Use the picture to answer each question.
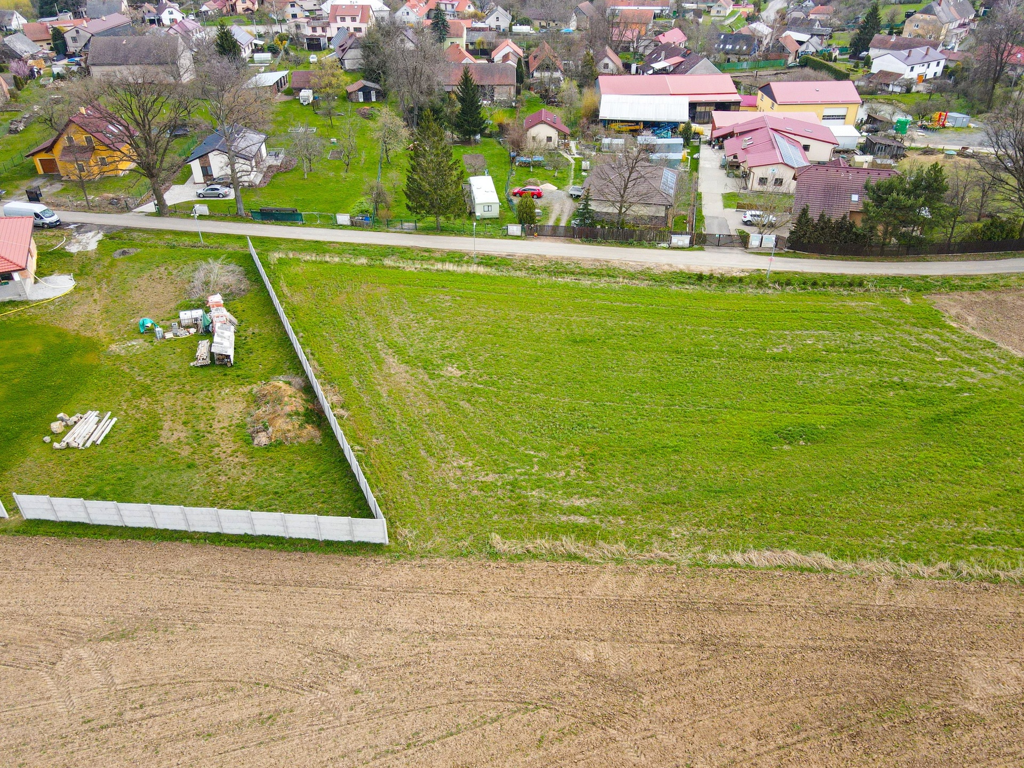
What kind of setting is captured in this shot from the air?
residential area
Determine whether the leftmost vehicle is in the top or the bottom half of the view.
top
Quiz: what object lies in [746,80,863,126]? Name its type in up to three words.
building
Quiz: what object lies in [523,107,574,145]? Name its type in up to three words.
house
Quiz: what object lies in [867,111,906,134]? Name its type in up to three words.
shed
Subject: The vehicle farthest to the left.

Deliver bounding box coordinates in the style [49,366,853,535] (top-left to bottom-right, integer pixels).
[3,198,63,223]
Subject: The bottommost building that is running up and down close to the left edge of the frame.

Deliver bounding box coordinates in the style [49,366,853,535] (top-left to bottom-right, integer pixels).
[0,212,43,316]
